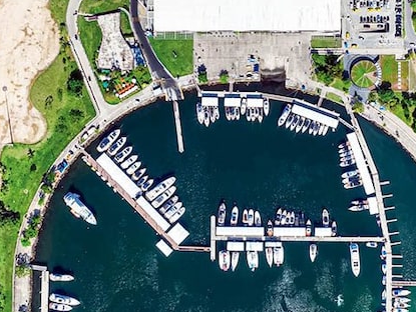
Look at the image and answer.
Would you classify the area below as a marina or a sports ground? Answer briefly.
marina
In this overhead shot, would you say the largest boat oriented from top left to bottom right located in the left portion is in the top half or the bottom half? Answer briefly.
bottom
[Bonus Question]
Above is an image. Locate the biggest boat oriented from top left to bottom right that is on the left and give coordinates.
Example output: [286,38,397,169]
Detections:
[61,192,96,224]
